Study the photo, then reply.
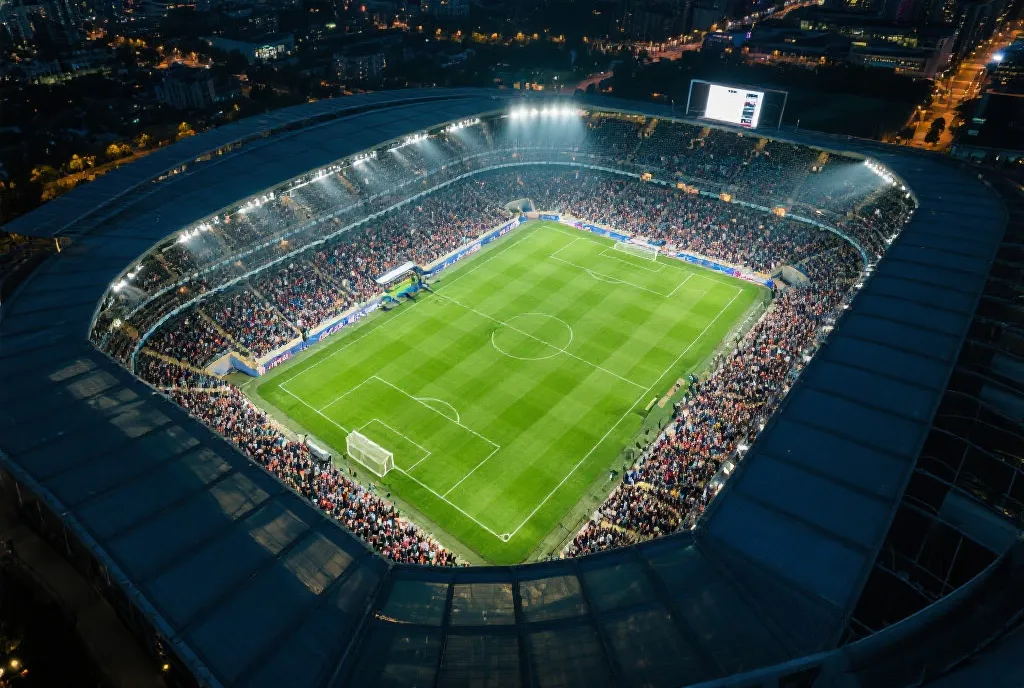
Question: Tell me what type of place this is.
sports ground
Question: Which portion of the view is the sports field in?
center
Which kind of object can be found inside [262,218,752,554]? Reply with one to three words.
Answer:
sports field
